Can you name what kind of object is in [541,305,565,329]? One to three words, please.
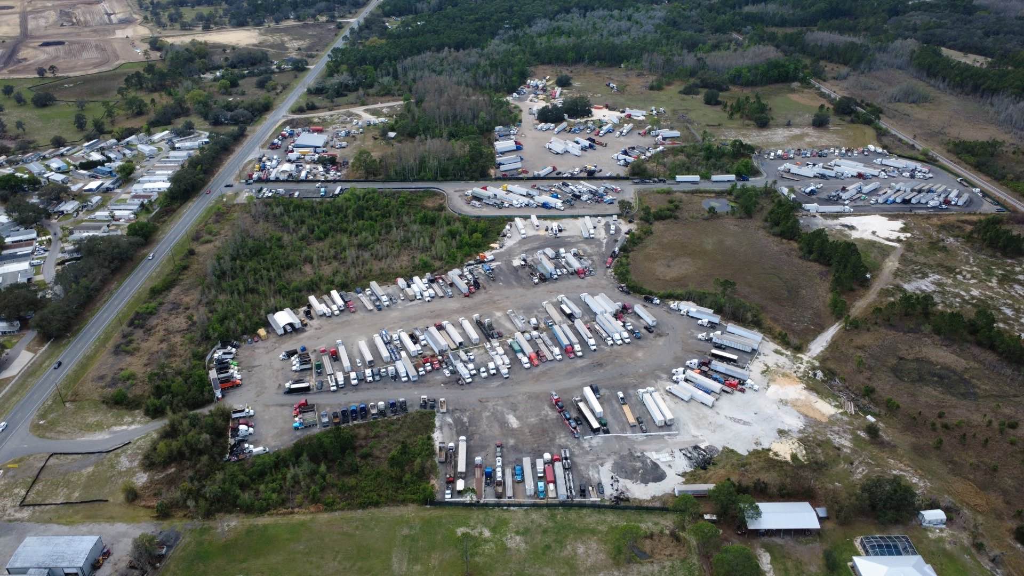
truck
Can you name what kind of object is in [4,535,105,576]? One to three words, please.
building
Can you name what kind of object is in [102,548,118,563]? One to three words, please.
work vehicle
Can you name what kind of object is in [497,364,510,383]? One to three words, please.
vehicle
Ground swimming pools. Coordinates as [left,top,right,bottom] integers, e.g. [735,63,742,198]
[856,540,913,556]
